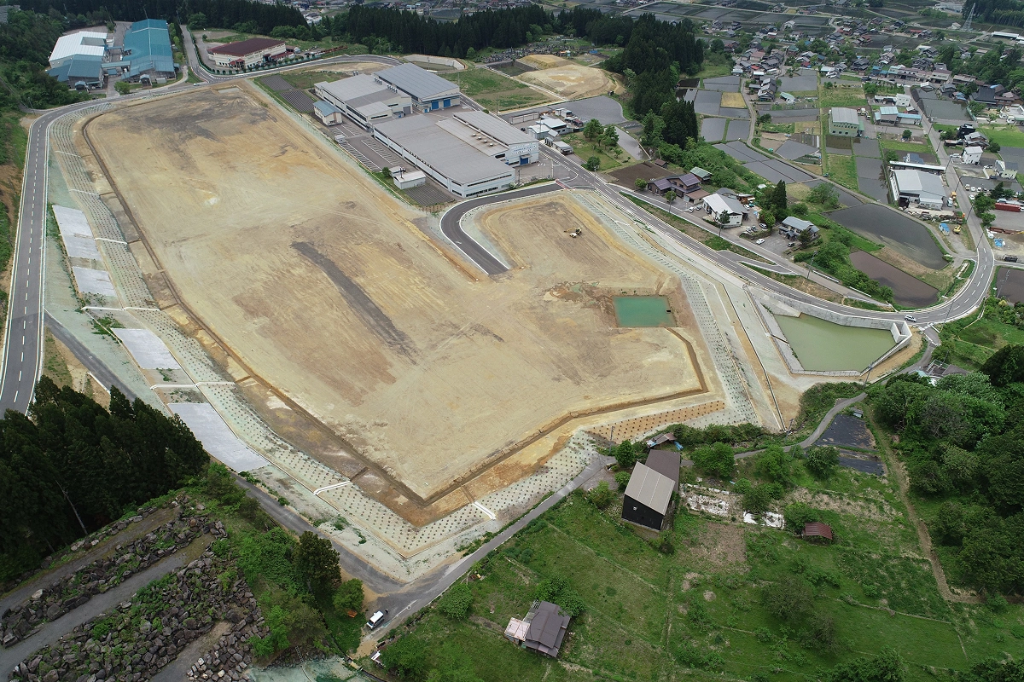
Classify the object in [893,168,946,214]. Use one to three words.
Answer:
building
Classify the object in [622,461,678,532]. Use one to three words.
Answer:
barn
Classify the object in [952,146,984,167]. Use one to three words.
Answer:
house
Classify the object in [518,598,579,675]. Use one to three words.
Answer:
house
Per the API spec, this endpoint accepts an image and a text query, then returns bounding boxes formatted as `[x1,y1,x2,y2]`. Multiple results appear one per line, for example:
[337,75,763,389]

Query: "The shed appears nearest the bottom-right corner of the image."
[800,522,833,549]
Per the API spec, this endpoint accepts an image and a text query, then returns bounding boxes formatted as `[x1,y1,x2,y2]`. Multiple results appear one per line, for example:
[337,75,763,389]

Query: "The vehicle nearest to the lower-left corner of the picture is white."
[365,608,385,629]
